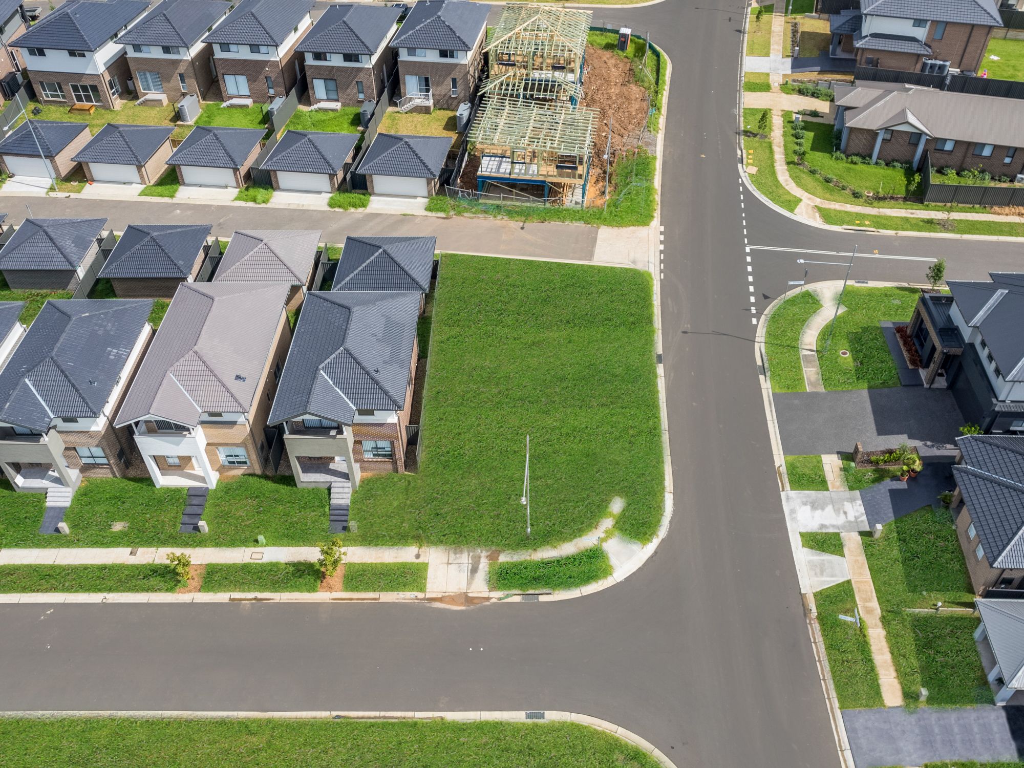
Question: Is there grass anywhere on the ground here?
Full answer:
Yes, there's grass in this view.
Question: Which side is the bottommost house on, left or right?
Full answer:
It is on the right.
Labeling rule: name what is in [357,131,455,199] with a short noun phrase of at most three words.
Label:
building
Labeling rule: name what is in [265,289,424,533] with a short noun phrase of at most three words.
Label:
house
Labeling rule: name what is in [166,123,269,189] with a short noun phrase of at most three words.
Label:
building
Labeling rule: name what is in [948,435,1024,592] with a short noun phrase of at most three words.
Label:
house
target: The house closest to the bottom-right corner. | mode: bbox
[971,595,1024,714]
